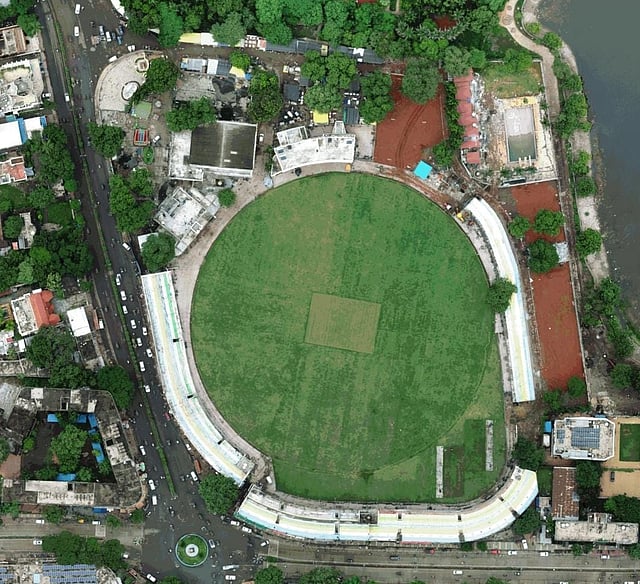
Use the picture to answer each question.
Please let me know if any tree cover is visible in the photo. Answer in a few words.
Yes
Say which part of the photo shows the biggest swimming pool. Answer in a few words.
top right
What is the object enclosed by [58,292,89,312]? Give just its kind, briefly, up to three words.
shed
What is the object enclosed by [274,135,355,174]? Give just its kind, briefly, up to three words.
building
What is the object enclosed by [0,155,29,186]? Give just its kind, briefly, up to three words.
house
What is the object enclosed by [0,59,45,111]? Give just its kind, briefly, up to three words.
building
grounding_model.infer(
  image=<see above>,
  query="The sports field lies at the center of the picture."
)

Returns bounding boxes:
[160,158,517,510]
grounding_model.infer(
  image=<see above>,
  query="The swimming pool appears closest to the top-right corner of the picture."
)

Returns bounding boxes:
[496,94,556,186]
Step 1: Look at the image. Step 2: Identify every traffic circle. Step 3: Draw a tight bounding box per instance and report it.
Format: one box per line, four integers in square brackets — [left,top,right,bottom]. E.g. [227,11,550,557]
[176,534,208,566]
